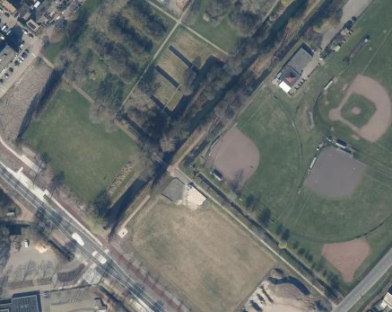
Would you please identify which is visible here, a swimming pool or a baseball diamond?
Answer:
baseball diamond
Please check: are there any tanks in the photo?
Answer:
No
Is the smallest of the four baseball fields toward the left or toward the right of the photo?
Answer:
right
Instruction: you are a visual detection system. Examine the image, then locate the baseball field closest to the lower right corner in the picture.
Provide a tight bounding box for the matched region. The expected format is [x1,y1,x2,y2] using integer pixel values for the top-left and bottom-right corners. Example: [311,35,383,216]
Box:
[321,238,368,282]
